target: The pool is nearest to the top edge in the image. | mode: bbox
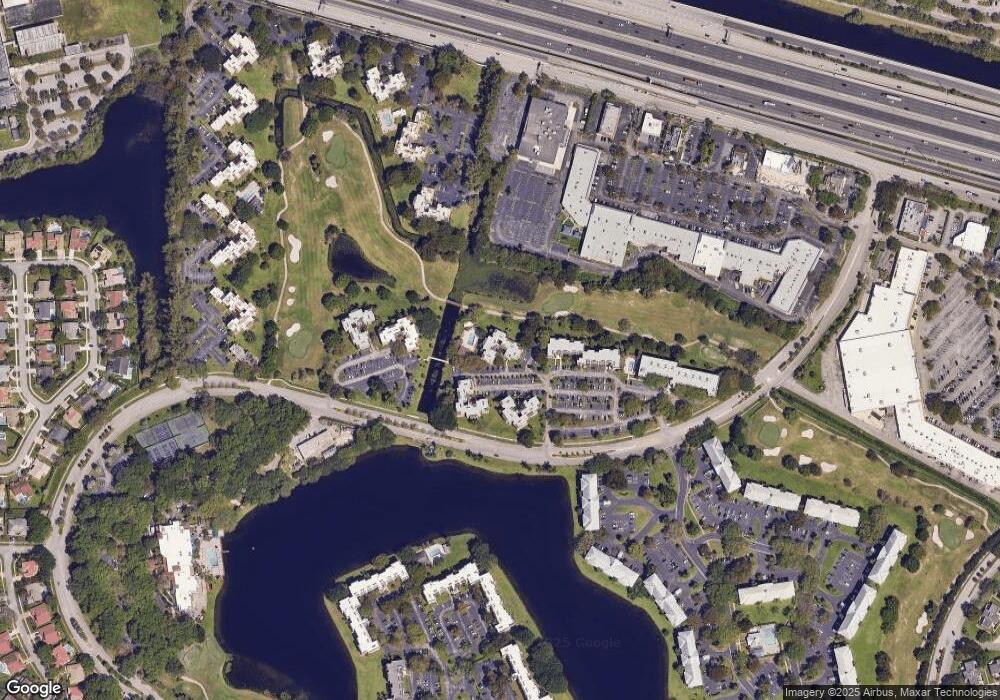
[378,108,396,134]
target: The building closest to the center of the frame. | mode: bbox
[481,329,521,361]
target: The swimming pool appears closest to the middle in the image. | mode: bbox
[463,326,478,350]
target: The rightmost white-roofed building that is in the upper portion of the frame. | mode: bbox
[953,222,990,254]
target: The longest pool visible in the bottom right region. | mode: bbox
[765,624,780,656]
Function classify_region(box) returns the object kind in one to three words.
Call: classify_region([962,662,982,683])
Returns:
house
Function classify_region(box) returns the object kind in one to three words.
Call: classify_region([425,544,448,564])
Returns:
swimming pool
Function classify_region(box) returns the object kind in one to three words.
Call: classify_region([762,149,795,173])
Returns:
building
